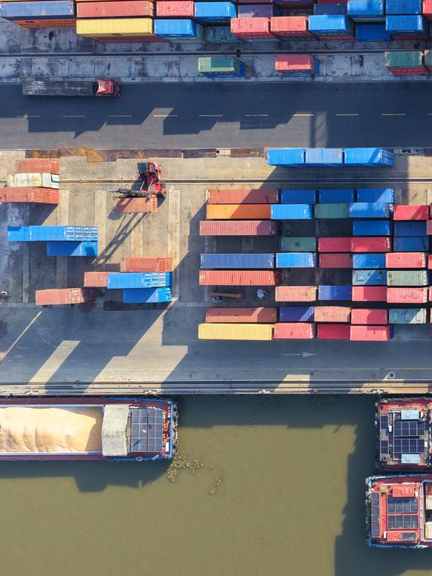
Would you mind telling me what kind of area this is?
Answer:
port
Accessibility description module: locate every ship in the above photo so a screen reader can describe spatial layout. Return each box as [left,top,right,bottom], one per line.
[0,399,181,461]
[374,397,432,471]
[365,474,432,548]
